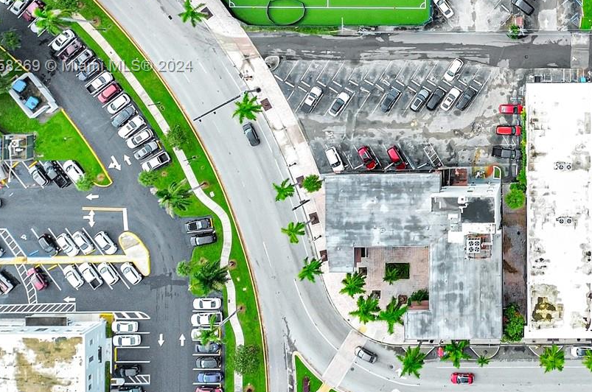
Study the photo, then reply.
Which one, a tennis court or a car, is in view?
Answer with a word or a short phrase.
car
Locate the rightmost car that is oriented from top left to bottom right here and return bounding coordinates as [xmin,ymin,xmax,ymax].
[511,0,534,17]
